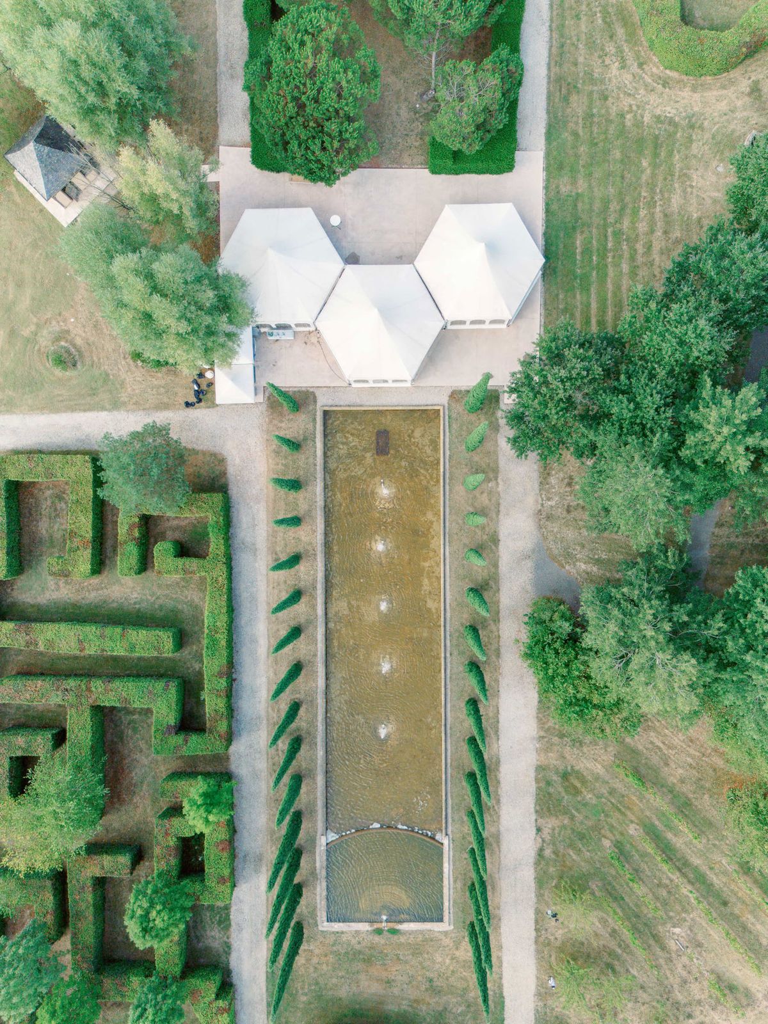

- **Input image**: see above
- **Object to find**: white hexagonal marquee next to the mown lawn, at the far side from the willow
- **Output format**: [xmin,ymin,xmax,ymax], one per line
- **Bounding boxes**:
[414,203,545,331]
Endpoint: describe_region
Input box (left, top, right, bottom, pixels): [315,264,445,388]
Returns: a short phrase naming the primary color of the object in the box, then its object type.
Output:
white tent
